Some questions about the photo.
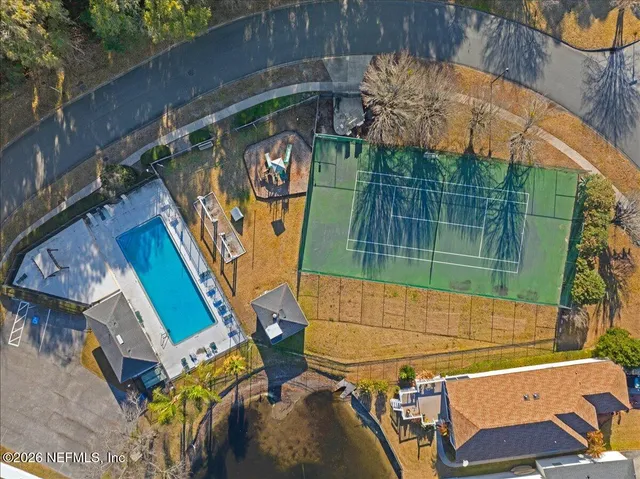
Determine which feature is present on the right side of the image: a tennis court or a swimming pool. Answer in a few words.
tennis court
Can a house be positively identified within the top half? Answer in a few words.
No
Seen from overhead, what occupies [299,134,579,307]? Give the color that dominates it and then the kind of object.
green tennis court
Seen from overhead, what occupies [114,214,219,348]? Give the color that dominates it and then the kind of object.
blue swimming pool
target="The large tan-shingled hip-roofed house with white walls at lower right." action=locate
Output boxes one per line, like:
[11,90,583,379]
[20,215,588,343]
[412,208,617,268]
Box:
[444,358,629,464]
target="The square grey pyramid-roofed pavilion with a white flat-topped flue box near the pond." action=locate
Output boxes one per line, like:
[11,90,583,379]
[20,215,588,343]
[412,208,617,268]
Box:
[251,283,309,345]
